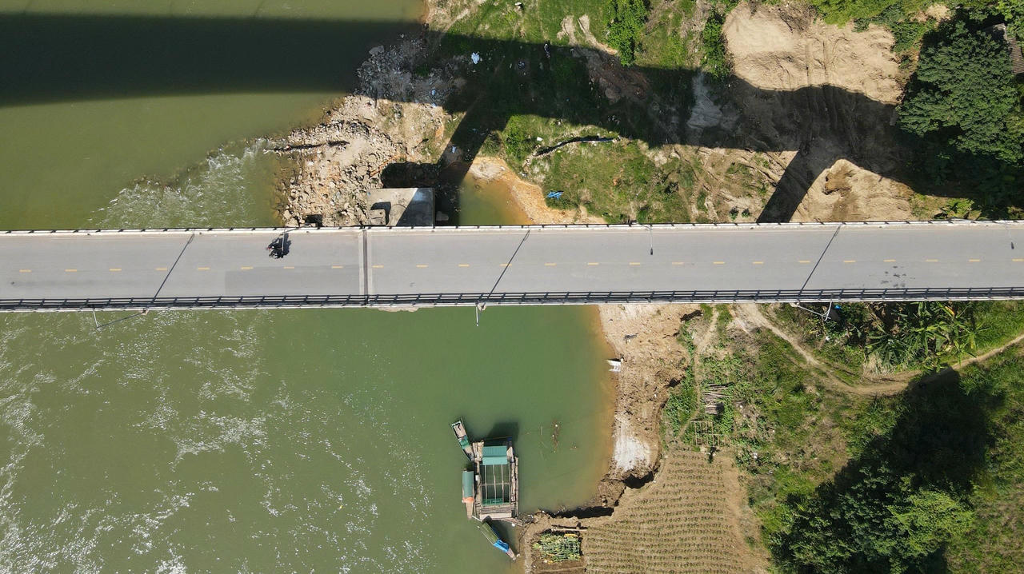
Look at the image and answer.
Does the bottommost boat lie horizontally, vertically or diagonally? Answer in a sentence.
In this picture, the bottommost boat lies diagonally.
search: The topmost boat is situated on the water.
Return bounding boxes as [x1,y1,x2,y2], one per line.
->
[453,421,473,461]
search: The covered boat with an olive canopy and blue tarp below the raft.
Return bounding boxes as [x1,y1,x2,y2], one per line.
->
[479,521,516,561]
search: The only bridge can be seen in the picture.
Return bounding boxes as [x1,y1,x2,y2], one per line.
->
[0,188,1024,312]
